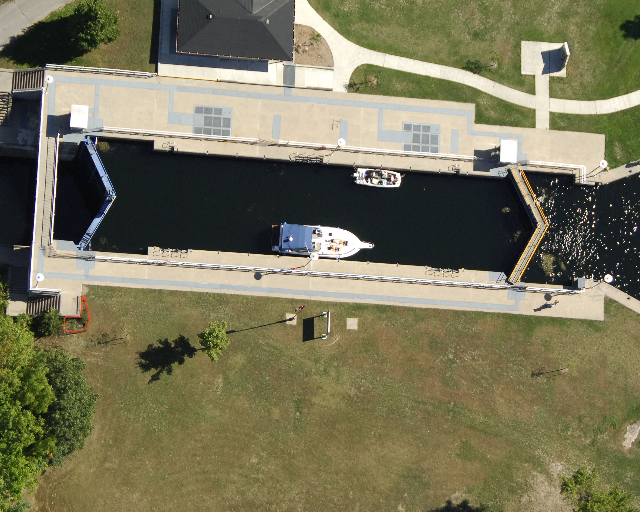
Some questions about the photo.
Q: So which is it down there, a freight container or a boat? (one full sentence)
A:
Looking from above, you can make out a boat.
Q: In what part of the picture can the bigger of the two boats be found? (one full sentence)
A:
You can find the bigger of the two boats in the center area of the picture.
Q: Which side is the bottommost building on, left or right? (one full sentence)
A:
The bottommost building is on the right side of the image.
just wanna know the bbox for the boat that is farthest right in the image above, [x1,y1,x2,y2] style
[349,164,407,189]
